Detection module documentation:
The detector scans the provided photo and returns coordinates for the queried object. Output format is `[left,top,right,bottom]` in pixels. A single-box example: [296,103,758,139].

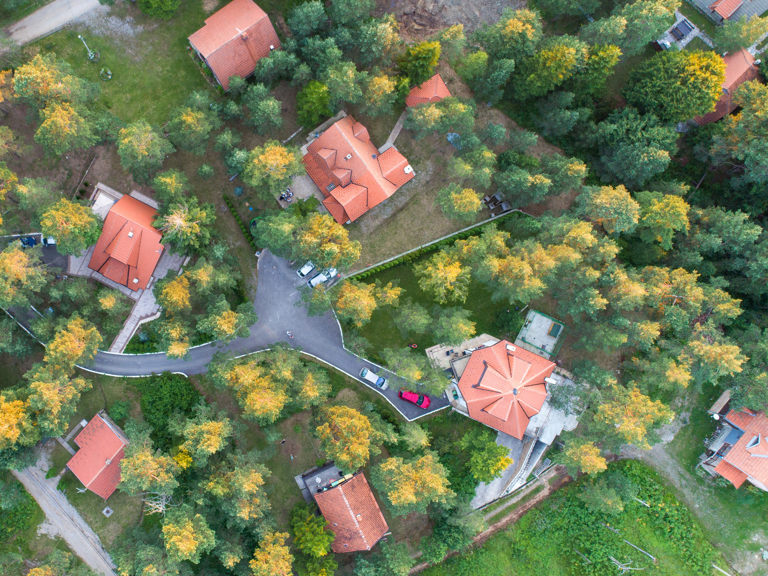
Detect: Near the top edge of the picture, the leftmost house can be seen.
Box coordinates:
[188,0,278,91]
